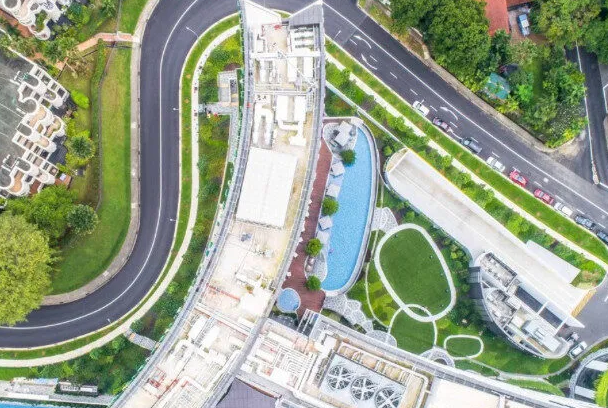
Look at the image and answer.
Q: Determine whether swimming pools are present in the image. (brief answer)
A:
Yes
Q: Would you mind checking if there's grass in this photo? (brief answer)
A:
Yes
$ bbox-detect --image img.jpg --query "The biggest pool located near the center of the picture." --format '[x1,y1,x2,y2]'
[304,111,385,303]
